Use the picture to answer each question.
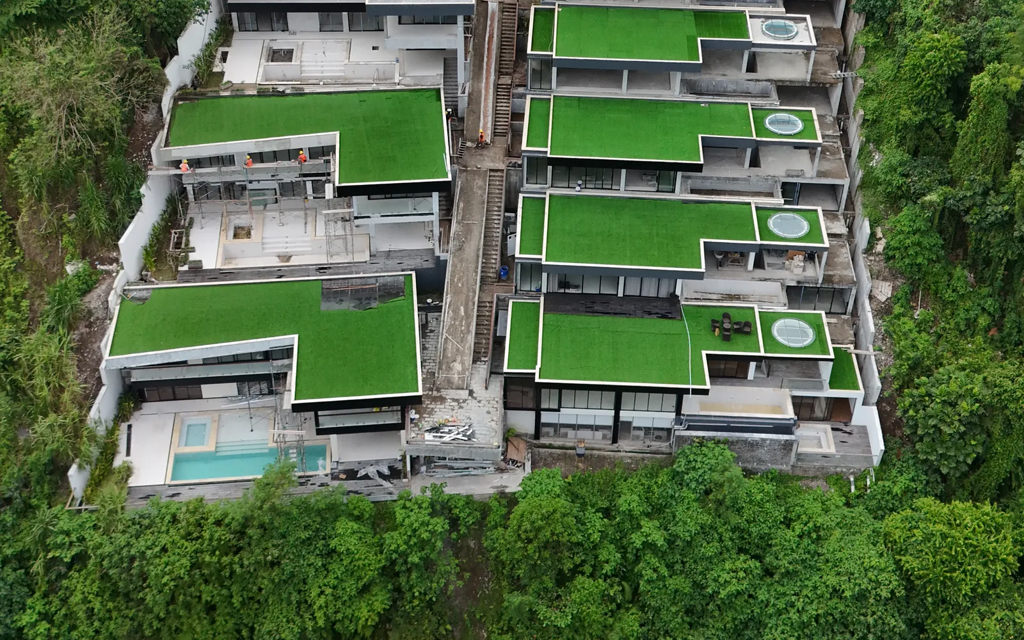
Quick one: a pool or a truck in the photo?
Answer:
pool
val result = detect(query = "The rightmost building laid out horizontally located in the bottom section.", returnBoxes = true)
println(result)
[503,296,881,488]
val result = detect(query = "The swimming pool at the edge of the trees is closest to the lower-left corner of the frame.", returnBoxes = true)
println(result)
[168,409,335,486]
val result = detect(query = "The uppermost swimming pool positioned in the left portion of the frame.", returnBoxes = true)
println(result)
[260,40,399,85]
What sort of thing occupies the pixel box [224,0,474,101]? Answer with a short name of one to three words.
house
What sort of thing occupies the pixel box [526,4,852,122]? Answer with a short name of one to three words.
house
